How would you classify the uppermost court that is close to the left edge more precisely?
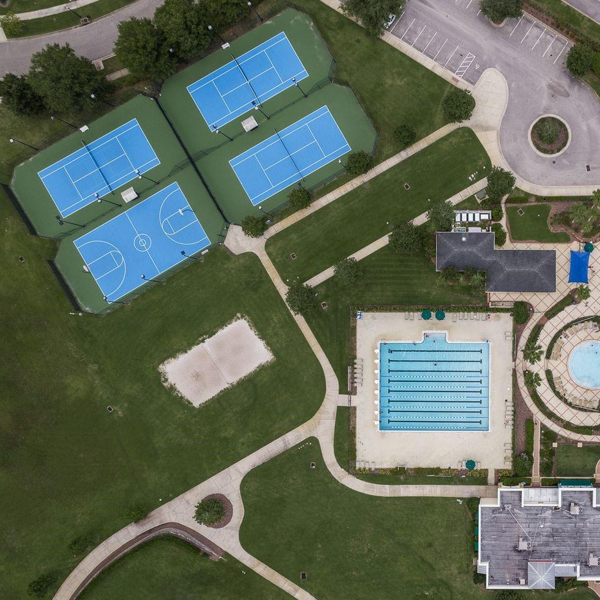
tennis court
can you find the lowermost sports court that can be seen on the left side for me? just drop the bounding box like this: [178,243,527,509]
[162,316,272,405]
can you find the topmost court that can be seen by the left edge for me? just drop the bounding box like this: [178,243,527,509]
[10,95,187,239]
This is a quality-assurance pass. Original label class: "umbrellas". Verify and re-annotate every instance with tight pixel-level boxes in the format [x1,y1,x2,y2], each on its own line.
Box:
[422,310,432,320]
[435,311,445,320]
[583,243,593,252]
[465,460,476,470]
